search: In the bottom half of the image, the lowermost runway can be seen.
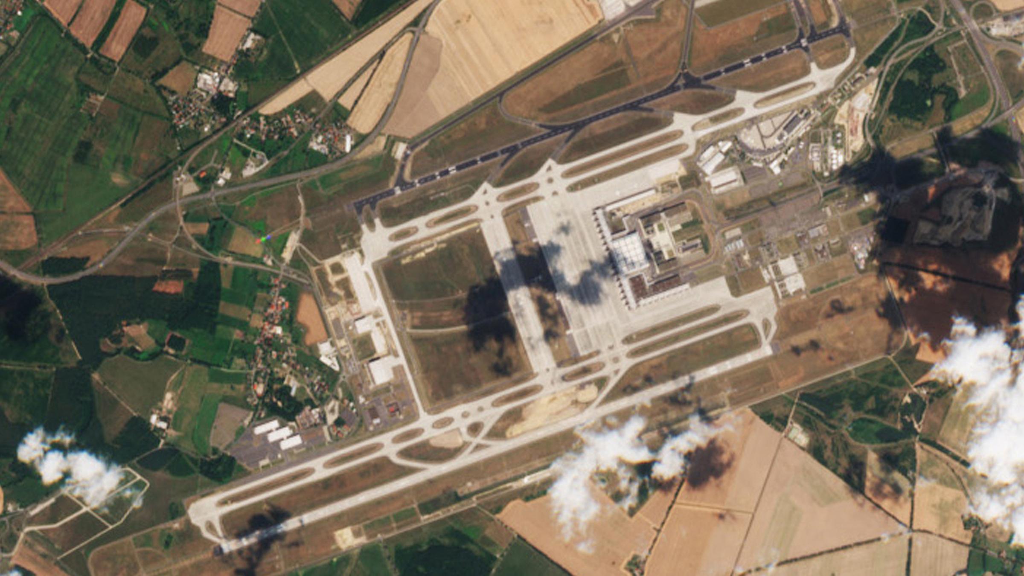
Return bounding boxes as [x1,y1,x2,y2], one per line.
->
[214,343,780,555]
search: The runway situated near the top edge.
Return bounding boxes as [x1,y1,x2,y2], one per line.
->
[346,20,857,210]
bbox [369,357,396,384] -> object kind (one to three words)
hangar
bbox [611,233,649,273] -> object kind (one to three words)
building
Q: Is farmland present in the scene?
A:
Yes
